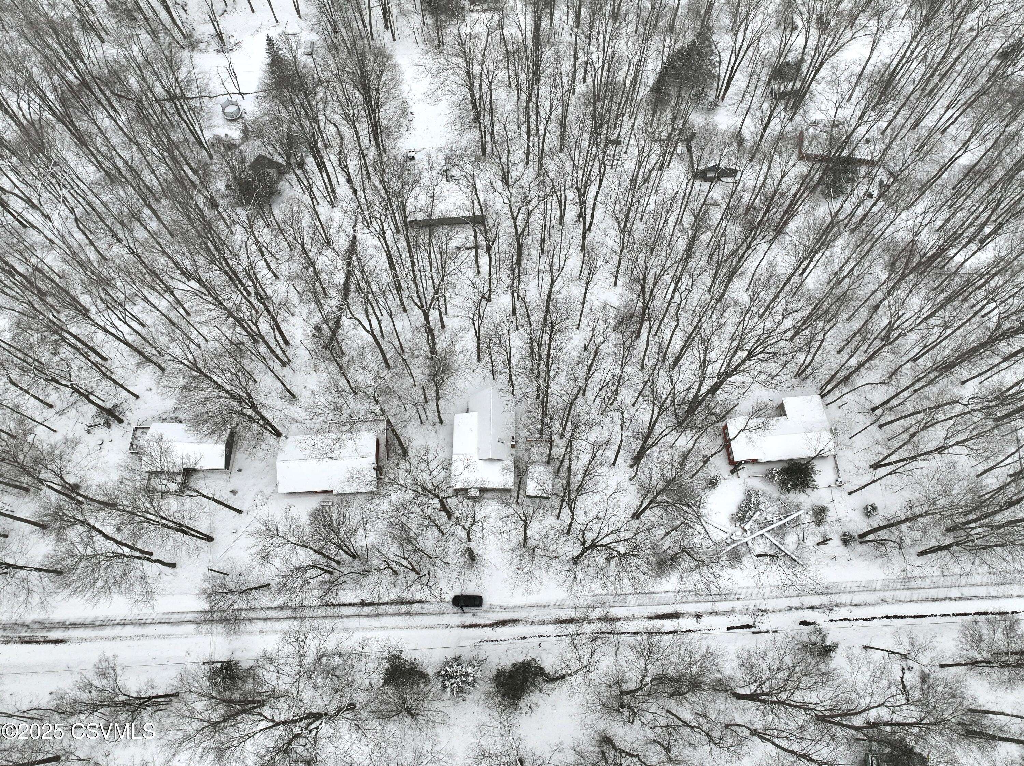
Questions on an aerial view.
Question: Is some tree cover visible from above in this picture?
Yes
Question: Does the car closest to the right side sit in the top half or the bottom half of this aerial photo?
bottom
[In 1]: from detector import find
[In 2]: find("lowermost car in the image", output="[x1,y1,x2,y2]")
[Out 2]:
[452,593,483,614]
